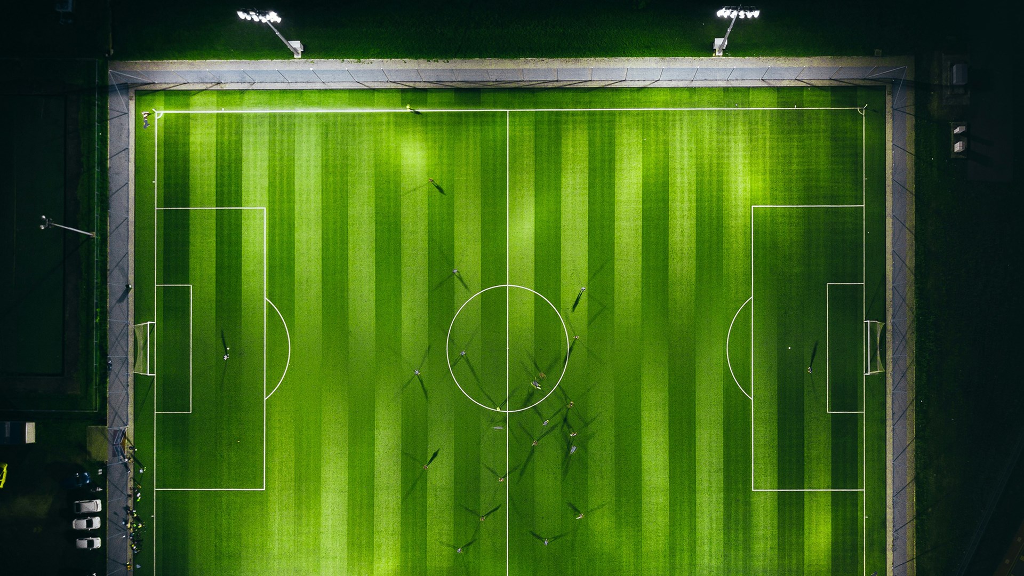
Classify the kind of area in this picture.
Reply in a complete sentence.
The picture captures a sports ground.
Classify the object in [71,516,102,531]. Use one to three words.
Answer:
car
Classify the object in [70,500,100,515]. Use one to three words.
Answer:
car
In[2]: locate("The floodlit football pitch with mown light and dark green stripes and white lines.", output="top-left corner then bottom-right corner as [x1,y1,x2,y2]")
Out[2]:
[131,85,887,576]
